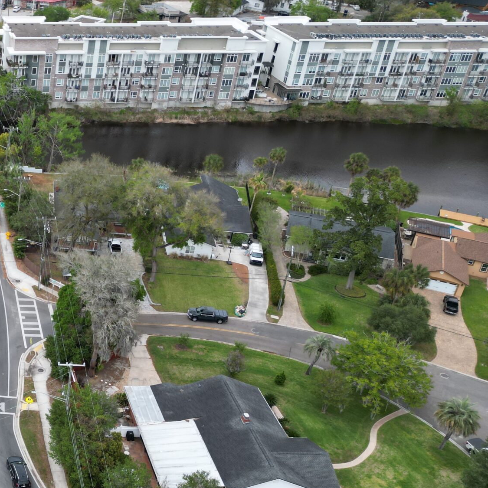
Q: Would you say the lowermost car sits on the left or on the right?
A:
left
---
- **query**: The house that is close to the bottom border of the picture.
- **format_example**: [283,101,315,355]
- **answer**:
[151,376,339,488]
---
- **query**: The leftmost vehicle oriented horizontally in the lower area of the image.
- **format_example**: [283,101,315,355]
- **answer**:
[187,308,230,325]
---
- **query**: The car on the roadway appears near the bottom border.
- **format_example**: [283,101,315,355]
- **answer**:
[4,453,35,488]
